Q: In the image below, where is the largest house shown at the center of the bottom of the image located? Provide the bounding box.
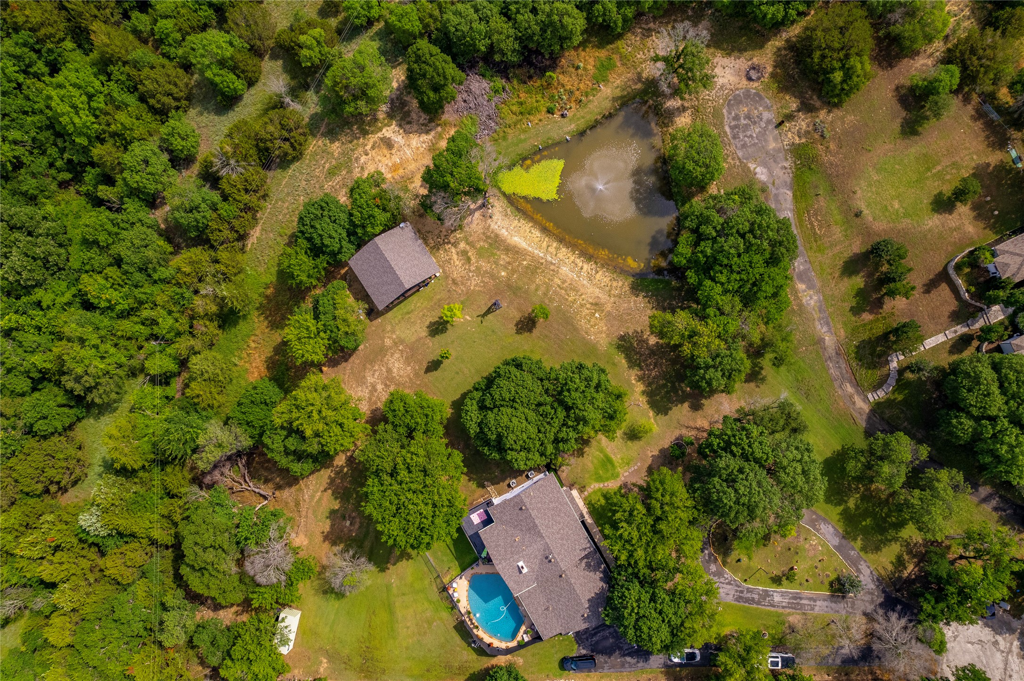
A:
[478,468,619,640]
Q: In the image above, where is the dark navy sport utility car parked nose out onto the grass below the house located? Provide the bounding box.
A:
[562,654,596,674]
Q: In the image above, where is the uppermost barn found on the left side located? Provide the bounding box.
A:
[348,222,440,310]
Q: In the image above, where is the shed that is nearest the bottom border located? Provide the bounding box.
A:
[270,610,300,655]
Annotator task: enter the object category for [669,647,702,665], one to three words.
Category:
car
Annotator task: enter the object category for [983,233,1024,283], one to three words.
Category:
house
